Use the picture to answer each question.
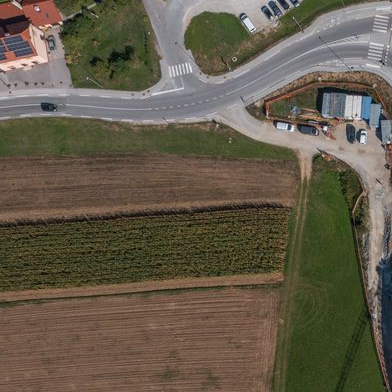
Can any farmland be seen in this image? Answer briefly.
Yes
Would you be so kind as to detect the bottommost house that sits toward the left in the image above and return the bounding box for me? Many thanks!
[0,25,48,73]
